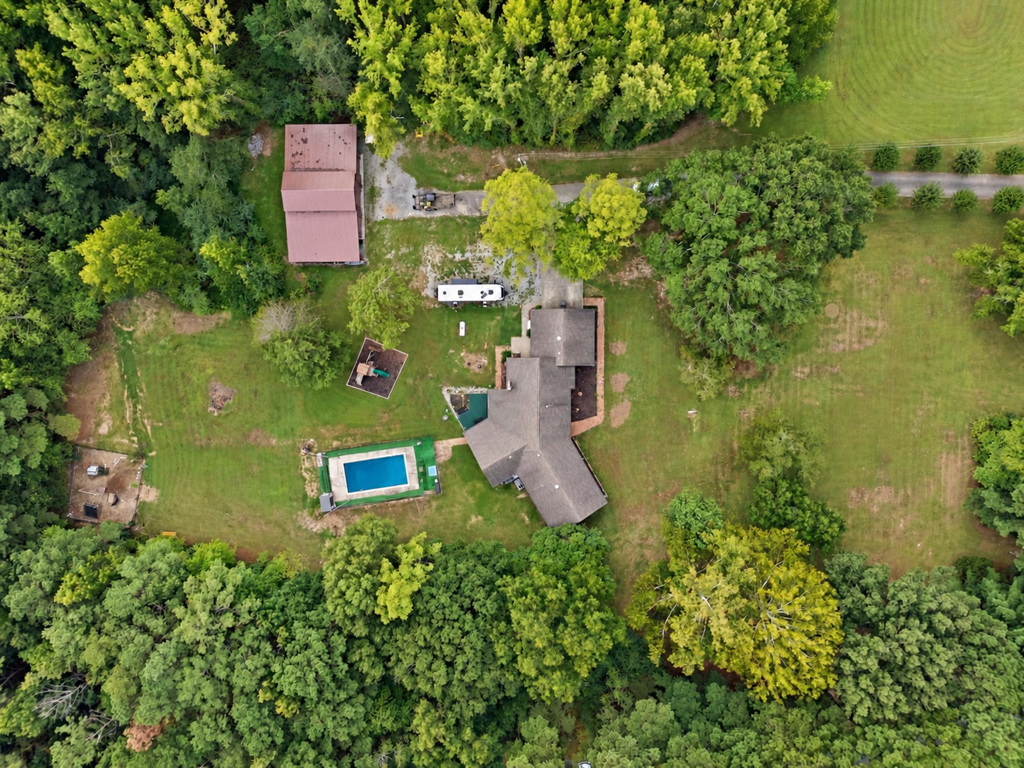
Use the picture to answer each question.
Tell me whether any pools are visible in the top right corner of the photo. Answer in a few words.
No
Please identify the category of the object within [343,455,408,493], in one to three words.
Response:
swimming pool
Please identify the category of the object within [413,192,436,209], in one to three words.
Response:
work vehicle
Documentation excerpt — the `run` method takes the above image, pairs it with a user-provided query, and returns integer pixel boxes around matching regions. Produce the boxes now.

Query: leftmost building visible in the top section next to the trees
[281,124,361,270]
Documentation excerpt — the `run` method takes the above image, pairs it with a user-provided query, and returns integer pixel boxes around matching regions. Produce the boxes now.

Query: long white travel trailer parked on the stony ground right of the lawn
[437,278,511,306]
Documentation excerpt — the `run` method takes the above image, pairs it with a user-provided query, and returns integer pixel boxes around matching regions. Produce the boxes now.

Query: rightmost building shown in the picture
[463,309,608,526]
